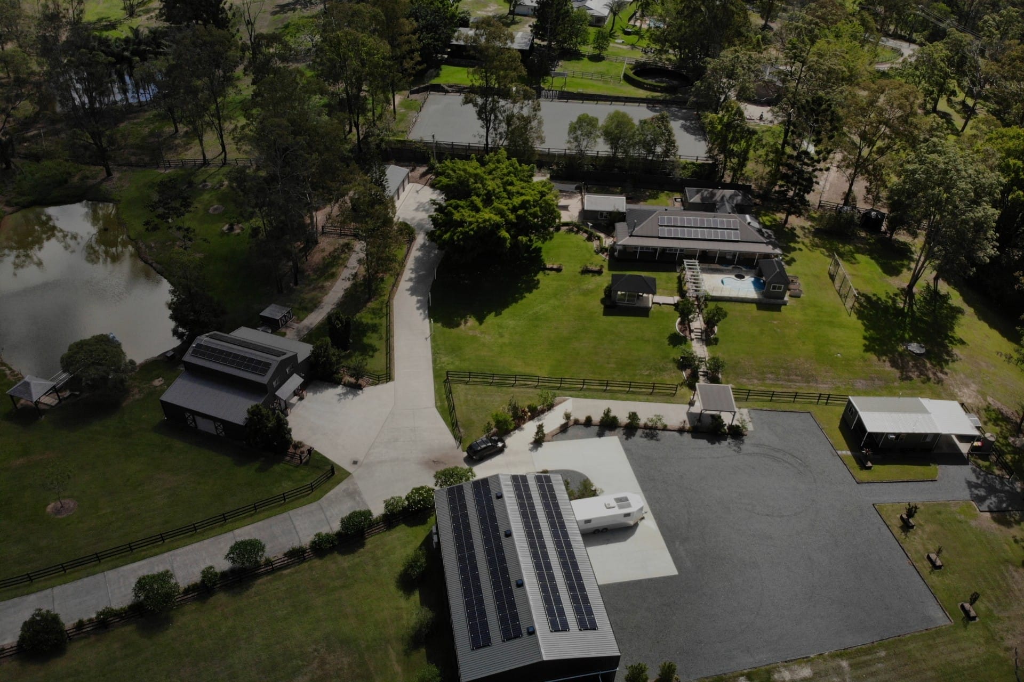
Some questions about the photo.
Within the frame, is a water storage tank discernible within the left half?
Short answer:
No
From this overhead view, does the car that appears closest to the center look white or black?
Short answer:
black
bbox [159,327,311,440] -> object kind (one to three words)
barn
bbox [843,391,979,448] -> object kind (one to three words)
building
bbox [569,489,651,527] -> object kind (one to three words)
trailer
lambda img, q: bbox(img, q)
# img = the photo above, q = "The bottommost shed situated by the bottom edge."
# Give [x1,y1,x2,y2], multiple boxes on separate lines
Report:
[431,472,619,682]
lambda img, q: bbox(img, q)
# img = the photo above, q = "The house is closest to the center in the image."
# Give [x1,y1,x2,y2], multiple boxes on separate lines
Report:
[609,275,657,307]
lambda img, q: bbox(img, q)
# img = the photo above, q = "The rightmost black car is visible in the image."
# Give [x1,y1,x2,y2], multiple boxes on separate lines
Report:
[467,433,508,460]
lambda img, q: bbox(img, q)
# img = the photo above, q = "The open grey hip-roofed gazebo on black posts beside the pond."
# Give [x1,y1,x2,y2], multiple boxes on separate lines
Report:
[5,377,61,417]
